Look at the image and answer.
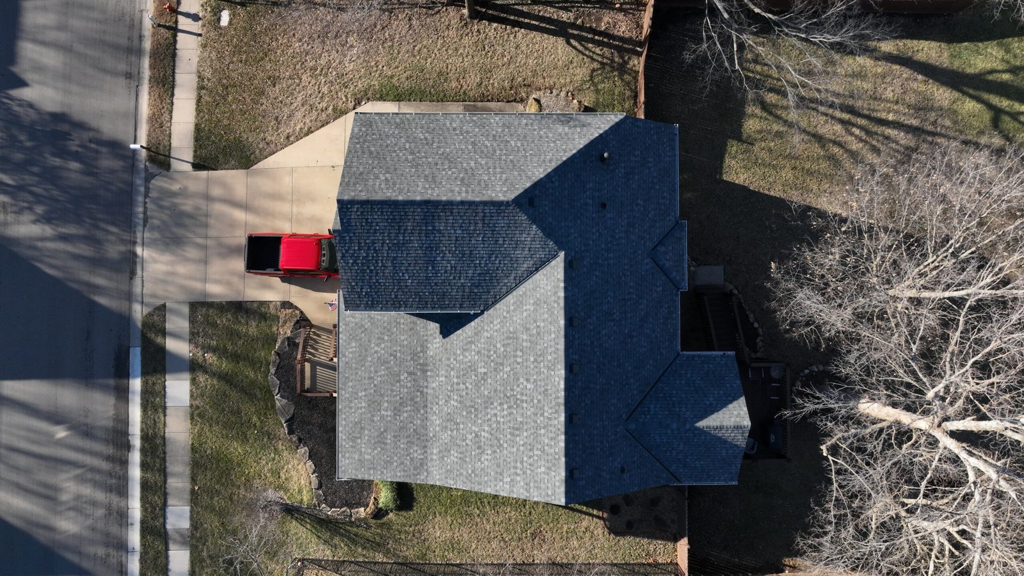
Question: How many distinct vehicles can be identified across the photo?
1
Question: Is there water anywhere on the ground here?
No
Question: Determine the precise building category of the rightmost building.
home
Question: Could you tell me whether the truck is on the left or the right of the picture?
left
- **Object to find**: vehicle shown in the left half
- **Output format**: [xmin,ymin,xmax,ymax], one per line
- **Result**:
[241,227,340,281]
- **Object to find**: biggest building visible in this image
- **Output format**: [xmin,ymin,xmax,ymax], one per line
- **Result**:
[332,112,751,506]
